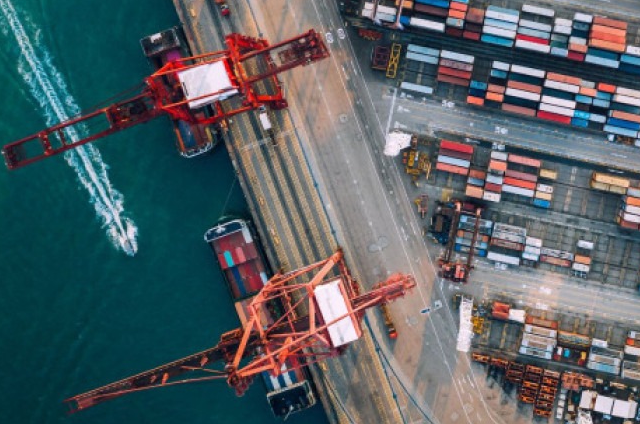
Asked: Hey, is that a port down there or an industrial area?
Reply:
port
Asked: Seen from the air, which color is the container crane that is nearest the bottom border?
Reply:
red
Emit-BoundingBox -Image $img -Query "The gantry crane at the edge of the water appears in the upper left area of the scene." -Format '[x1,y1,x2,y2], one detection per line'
[0,28,322,175]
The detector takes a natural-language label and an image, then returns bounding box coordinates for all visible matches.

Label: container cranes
[374,0,405,32]
[437,197,481,276]
[53,242,414,417]
[0,28,322,175]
